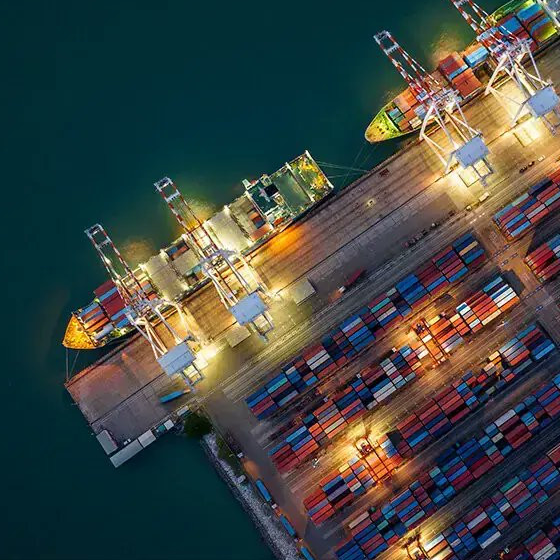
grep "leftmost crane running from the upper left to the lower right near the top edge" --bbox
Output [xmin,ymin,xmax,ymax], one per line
[372,26,501,182]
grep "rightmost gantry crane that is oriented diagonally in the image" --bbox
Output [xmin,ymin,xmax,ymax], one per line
[450,0,560,132]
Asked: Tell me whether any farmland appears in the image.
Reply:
No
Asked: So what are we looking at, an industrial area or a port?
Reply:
port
